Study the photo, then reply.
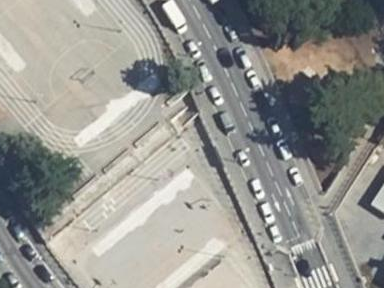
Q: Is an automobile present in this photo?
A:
Yes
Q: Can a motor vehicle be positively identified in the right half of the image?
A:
Yes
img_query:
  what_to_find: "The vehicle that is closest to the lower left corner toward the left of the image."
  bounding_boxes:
[3,272,20,288]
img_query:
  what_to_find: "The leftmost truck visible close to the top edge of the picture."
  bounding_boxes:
[160,0,186,34]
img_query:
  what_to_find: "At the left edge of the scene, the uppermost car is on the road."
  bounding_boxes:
[6,217,24,240]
